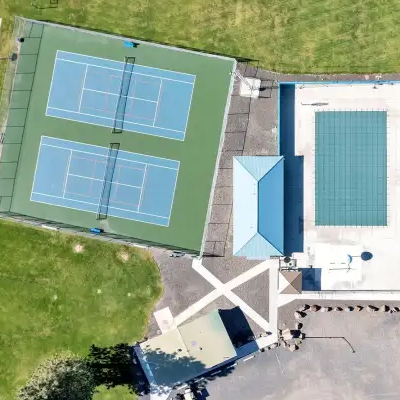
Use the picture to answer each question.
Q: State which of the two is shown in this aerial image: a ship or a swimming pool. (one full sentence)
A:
I can see a swimming pool in this picture.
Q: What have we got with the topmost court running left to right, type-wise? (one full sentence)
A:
The topmost court running left to right is a tennis court.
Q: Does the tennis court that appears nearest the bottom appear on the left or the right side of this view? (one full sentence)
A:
It is on the left.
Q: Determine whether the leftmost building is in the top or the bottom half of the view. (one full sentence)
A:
The leftmost building is in the bottom half of the image.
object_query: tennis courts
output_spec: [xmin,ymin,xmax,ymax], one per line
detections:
[45,51,195,140]
[30,136,180,226]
